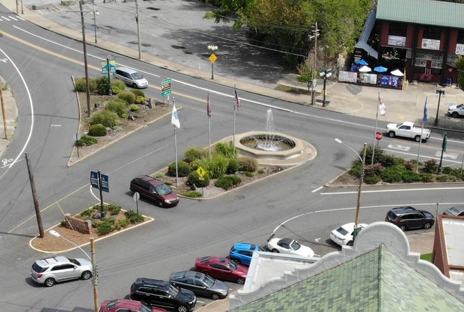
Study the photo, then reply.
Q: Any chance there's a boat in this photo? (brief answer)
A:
No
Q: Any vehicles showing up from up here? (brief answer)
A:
Yes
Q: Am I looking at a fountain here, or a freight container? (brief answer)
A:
fountain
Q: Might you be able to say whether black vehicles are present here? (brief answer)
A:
Yes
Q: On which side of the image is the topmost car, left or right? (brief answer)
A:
left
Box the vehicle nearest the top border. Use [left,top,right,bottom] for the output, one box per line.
[113,65,147,86]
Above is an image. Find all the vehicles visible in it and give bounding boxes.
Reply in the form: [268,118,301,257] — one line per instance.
[129,174,179,206]
[166,270,231,299]
[386,206,438,230]
[268,236,318,256]
[448,102,464,117]
[385,121,432,142]
[128,276,199,312]
[113,65,147,86]
[30,254,97,286]
[98,298,167,312]
[193,256,249,283]
[437,200,464,218]
[229,241,277,263]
